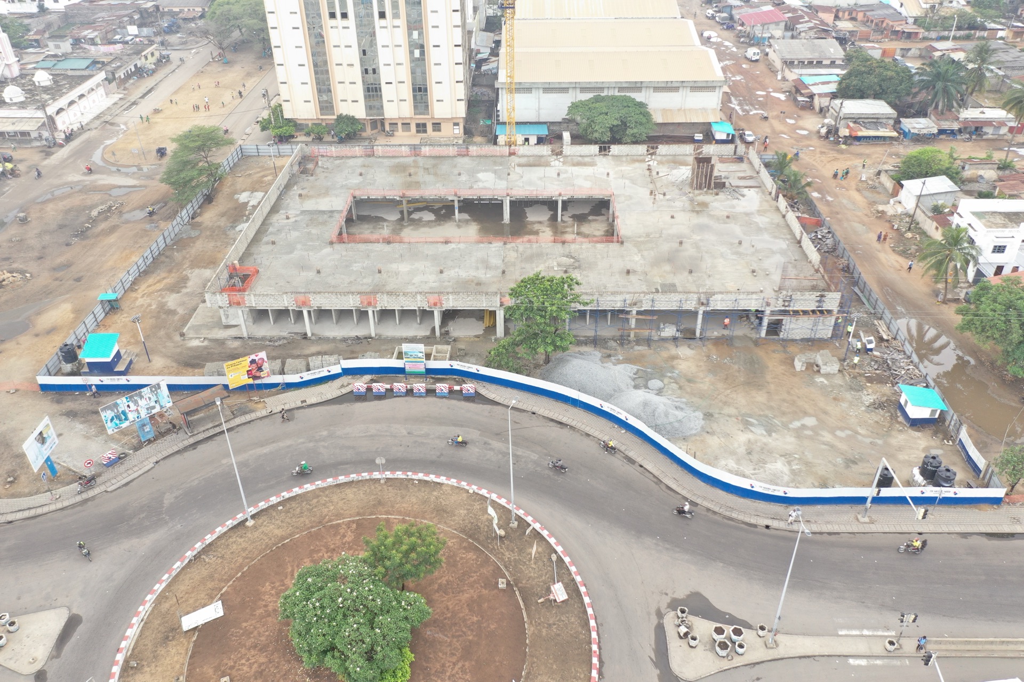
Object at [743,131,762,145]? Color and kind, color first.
white car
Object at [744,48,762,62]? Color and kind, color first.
white vehicle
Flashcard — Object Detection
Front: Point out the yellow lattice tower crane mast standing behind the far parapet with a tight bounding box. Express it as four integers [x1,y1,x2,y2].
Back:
[492,0,530,155]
